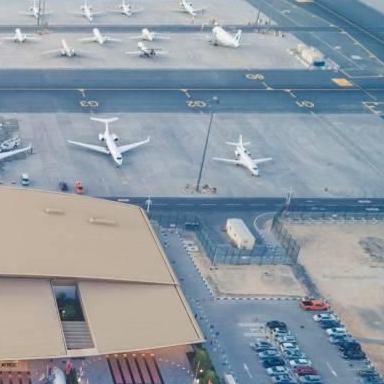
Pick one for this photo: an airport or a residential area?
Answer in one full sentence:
This image shows an airport.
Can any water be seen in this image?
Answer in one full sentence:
No, the picture contains no water.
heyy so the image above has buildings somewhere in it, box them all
[0,186,205,362]
[219,212,258,246]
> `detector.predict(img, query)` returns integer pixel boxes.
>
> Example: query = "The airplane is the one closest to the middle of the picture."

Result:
[212,135,273,179]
